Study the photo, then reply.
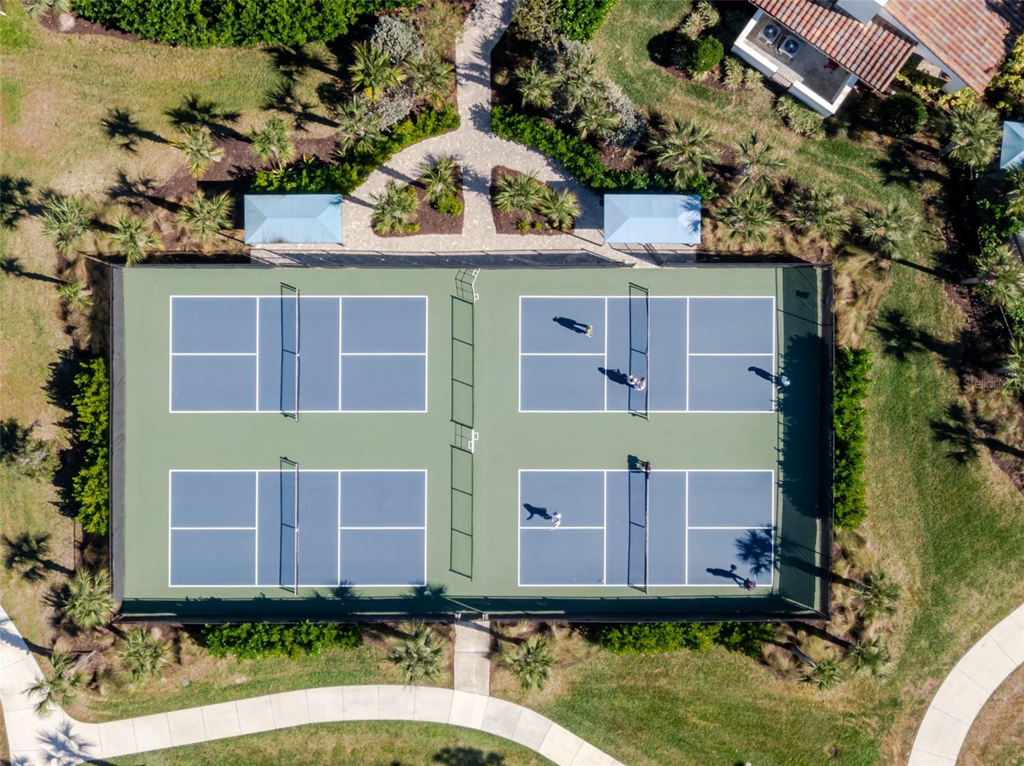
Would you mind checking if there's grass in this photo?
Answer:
Yes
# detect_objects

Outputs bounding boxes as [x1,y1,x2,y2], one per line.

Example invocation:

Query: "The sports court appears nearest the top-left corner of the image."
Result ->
[170,296,427,413]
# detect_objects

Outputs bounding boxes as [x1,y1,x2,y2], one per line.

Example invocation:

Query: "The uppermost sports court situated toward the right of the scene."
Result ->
[519,296,776,413]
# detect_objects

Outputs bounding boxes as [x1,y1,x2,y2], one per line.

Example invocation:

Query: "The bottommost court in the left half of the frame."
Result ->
[170,470,426,587]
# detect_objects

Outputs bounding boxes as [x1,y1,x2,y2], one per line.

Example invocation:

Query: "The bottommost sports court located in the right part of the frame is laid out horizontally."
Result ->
[518,470,774,587]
